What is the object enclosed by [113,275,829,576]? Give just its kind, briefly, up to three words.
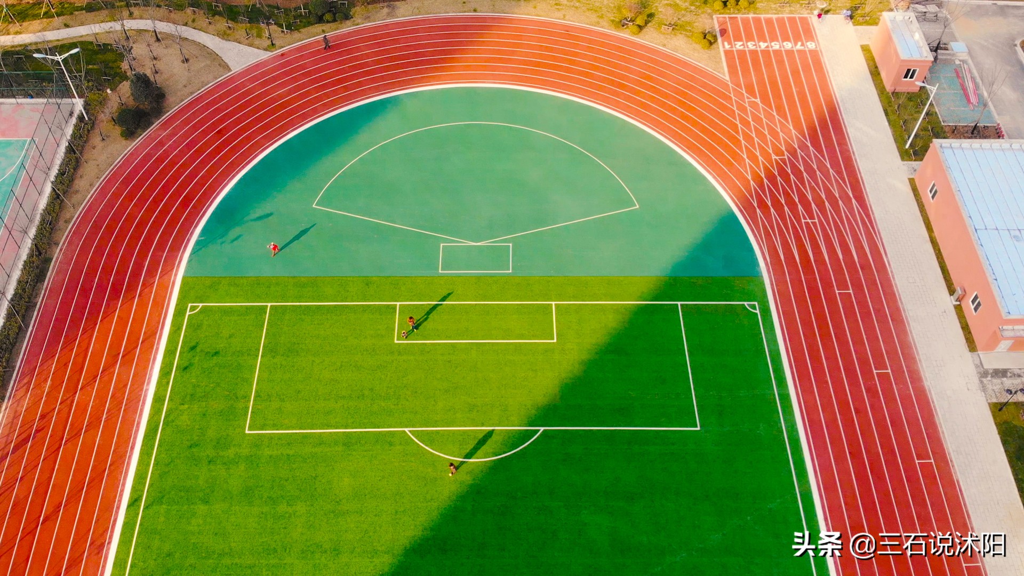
soccer field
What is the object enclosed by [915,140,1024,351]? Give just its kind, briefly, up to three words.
building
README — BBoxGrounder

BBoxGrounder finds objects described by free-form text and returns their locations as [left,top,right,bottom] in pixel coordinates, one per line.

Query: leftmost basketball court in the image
[0,105,72,302]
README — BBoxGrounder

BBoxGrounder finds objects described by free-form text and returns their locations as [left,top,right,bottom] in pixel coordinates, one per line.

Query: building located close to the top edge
[870,11,934,92]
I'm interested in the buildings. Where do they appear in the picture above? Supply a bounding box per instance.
[915,140,1024,351]
[870,11,934,92]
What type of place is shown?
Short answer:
sports ground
